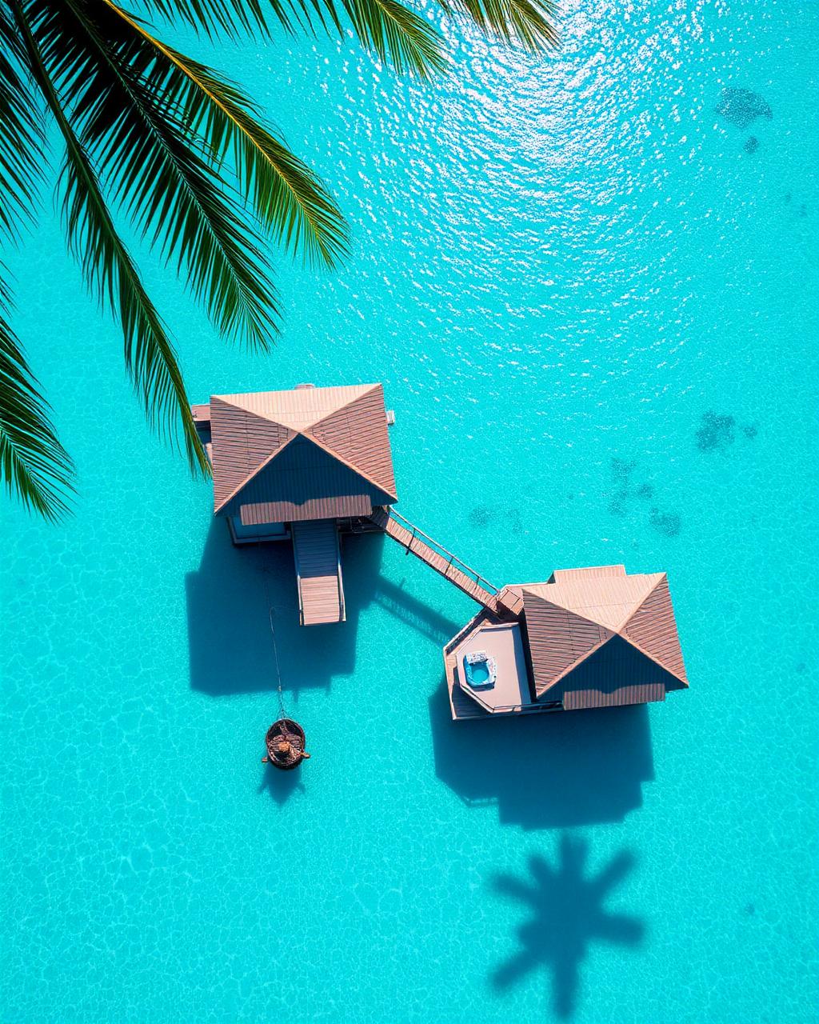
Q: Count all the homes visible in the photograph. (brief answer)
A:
2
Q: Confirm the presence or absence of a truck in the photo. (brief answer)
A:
No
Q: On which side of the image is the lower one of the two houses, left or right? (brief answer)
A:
right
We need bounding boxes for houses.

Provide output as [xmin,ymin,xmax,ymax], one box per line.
[192,381,399,626]
[444,564,691,720]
